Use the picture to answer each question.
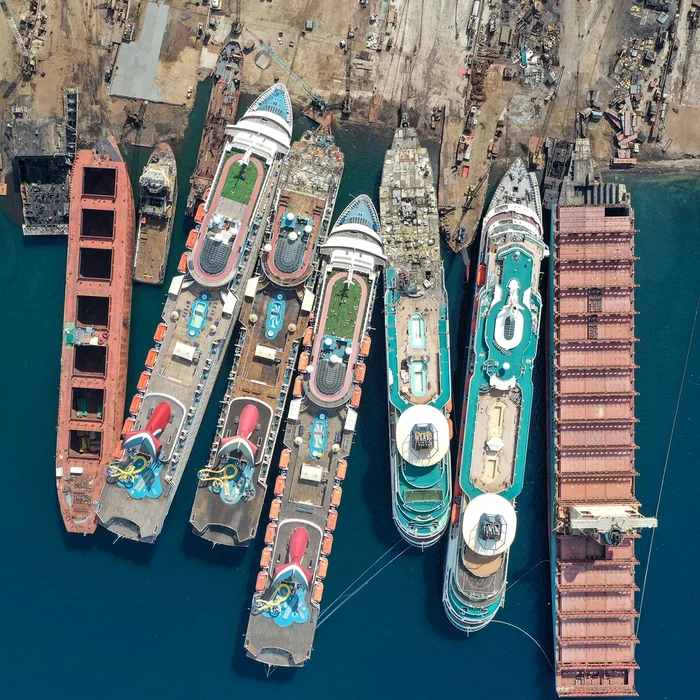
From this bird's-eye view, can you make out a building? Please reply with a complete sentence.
Yes, the photo shows a building.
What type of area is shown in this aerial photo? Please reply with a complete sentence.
The area seen from above is a port.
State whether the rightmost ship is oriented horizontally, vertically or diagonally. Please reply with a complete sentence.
The rightmost ship has been laid out vertically relative to the frame.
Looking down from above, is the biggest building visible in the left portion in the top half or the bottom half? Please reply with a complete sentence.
The biggest building visible in the left portion is in the top half of the image.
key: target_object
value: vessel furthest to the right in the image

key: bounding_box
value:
[543,124,661,698]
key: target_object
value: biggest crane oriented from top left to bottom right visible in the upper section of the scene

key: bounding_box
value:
[245,29,327,113]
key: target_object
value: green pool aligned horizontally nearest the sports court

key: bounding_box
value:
[405,487,442,504]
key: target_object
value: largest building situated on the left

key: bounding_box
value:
[110,2,172,102]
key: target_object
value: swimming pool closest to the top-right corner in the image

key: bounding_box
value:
[409,312,426,349]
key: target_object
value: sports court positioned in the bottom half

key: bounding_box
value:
[463,567,496,592]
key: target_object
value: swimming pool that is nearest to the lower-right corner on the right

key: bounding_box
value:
[483,455,498,484]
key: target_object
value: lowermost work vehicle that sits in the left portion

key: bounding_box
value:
[117,112,141,133]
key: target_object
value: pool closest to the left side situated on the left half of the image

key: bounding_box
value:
[186,288,211,337]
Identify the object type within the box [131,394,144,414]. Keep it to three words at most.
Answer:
boat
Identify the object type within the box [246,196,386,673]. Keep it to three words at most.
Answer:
ship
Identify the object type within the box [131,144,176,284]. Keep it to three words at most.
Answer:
ship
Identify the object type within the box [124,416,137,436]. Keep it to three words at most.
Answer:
boat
